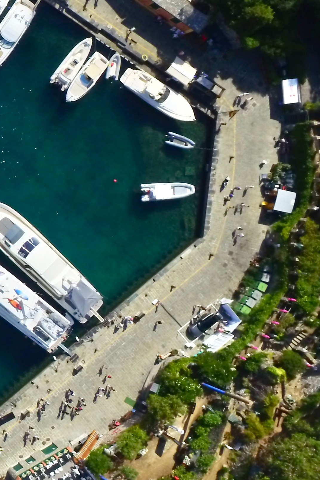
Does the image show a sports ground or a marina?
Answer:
marina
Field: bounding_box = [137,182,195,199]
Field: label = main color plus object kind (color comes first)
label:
white boat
